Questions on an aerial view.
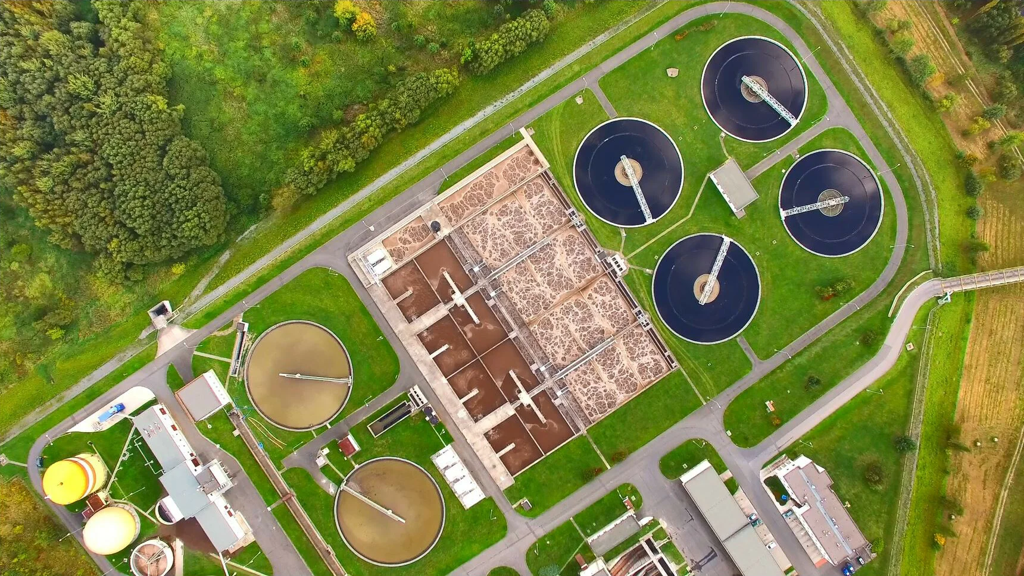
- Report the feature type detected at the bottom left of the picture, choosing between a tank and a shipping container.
tank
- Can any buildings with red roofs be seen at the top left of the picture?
No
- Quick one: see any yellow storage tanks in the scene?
Yes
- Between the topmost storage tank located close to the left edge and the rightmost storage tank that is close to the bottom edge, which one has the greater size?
the rightmost storage tank that is close to the bottom edge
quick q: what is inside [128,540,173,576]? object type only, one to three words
storage tank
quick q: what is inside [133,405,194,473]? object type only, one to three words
building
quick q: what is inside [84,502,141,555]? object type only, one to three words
storage tank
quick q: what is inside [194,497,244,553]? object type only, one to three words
building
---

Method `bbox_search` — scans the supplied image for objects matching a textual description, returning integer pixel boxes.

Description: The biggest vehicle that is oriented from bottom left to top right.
[97,403,126,422]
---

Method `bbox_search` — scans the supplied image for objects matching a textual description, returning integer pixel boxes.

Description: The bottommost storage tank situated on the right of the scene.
[652,233,763,344]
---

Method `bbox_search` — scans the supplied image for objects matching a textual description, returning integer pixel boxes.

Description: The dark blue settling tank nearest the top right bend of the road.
[701,34,809,142]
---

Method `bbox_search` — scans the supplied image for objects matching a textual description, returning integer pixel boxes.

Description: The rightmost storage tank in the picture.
[778,149,886,256]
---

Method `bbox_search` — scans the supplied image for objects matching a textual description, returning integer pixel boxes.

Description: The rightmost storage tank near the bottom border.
[333,457,445,569]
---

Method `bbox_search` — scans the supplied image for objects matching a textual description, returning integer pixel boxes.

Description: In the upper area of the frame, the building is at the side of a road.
[708,158,759,212]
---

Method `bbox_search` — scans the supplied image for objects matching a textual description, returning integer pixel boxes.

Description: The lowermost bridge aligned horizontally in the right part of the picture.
[943,265,1024,295]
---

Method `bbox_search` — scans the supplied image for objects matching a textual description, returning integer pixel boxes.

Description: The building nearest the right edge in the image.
[777,454,866,566]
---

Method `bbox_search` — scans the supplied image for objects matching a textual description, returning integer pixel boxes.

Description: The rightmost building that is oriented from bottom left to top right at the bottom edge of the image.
[587,512,641,557]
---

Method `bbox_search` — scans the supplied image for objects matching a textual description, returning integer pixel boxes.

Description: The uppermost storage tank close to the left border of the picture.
[42,451,108,506]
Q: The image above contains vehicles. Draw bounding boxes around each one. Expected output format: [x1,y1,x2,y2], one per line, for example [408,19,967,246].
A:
[766,541,778,549]
[747,514,757,522]
[842,567,850,576]
[783,510,793,517]
[847,563,855,574]
[97,403,126,422]
[751,519,762,527]
[856,556,865,567]
[36,456,43,467]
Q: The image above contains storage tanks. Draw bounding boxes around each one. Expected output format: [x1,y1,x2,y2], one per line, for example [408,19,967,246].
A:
[128,540,173,576]
[42,451,108,506]
[701,34,809,142]
[574,116,685,227]
[333,457,445,569]
[84,502,141,555]
[243,322,353,431]
[152,497,184,527]
[652,233,763,344]
[778,149,886,256]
